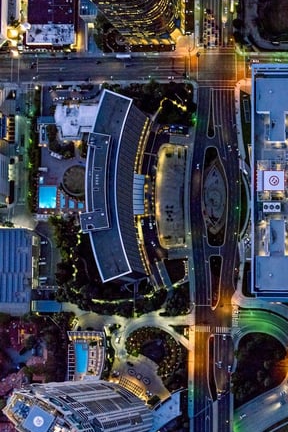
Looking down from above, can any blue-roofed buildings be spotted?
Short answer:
Yes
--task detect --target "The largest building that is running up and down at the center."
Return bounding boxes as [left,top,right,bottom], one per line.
[80,89,153,287]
